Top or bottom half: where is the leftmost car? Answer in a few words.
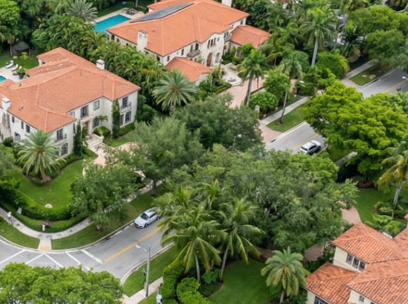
bottom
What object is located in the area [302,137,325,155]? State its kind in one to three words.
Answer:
car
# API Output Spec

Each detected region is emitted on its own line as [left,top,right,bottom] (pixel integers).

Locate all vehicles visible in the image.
[302,137,325,155]
[135,205,167,227]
